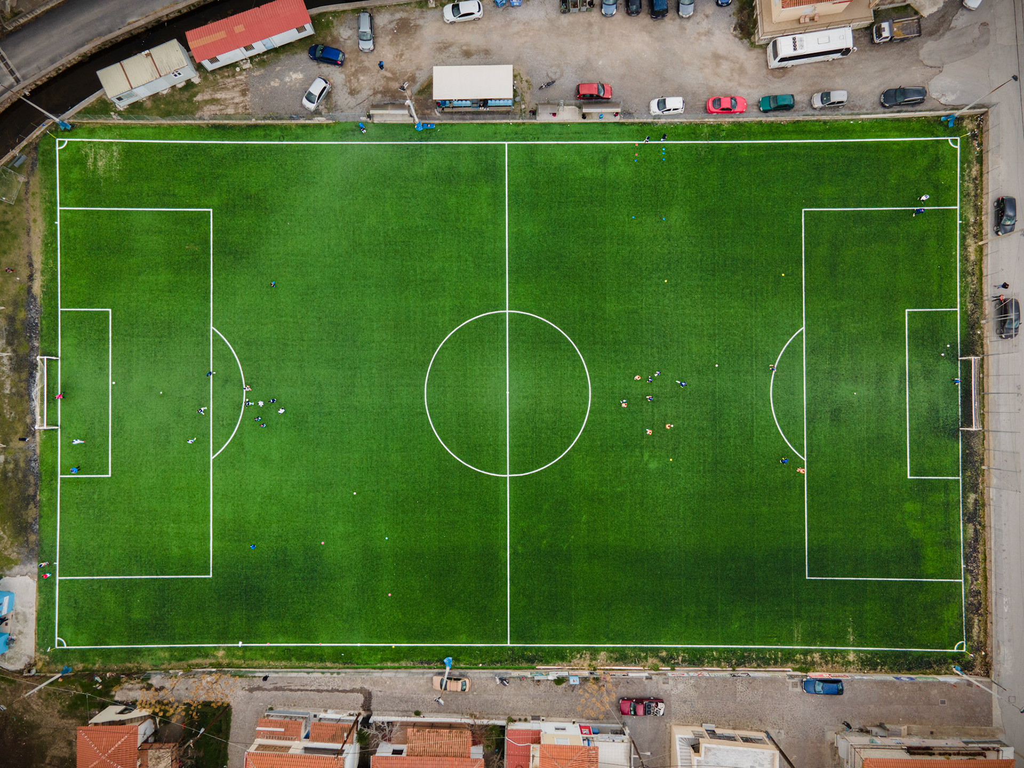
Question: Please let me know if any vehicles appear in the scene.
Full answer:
Yes, a vehicle appears in the view.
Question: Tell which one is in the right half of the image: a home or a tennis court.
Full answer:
It is a home that can be seen in the right half of the image.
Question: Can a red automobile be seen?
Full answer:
Yes, there is a red automobile in the image.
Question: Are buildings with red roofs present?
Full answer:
Yes, the frame does contain a building with a red roof.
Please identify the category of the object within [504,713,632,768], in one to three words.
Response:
house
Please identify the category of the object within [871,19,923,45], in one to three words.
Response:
truck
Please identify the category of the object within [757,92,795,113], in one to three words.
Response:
car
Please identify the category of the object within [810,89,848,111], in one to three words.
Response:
car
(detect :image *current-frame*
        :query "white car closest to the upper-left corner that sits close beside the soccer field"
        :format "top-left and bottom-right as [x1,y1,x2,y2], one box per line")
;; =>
[303,75,331,112]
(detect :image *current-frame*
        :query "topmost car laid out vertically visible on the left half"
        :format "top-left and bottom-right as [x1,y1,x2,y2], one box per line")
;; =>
[355,11,375,55]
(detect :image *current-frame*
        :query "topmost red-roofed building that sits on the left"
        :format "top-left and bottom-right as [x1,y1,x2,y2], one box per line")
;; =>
[184,0,314,70]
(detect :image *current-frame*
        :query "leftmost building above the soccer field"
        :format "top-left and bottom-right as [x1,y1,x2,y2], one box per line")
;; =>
[97,39,198,108]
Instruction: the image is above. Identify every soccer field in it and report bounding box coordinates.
[35,118,991,675]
